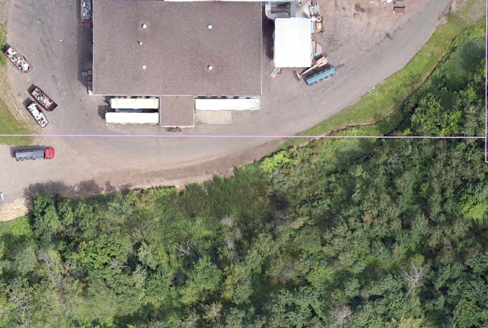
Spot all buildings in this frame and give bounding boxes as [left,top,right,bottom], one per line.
[92,1,263,132]
[273,18,311,67]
